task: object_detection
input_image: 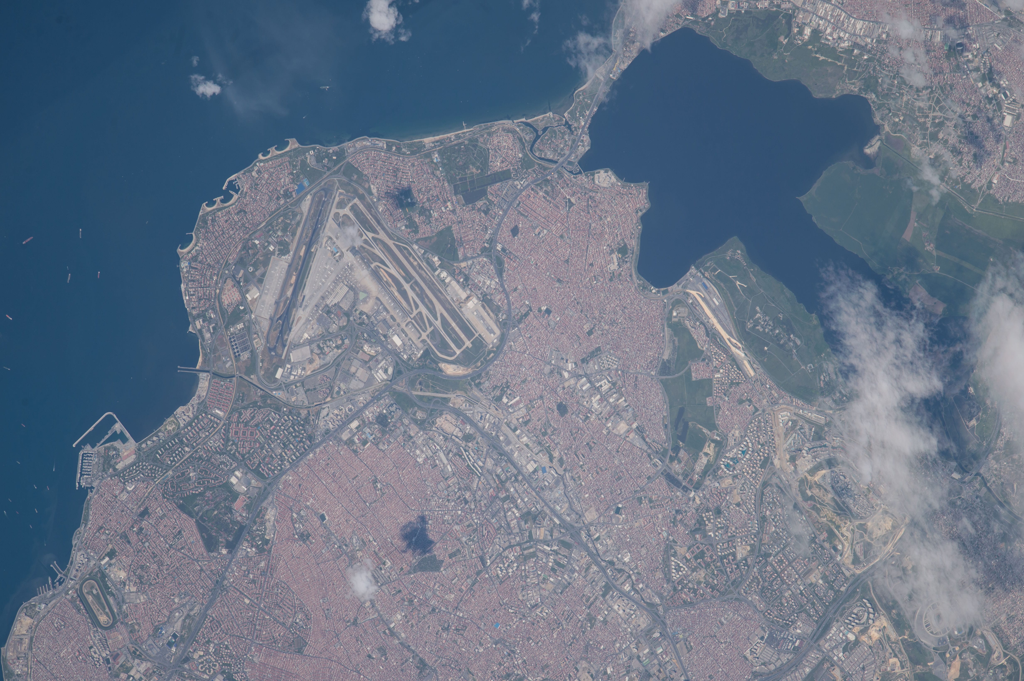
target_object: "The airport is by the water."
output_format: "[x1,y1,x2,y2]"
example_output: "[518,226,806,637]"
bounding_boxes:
[253,178,498,381]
